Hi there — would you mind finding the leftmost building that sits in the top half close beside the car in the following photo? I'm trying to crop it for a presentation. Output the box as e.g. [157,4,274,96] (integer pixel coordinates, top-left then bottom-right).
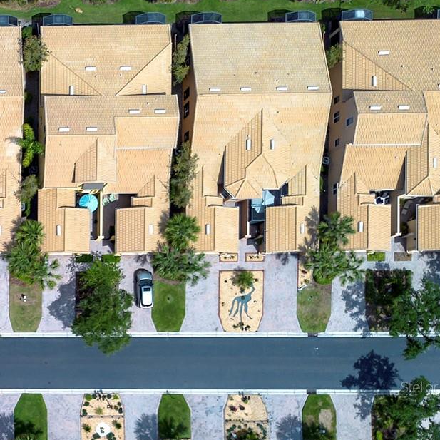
[39,12,180,255]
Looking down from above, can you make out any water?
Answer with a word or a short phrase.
No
